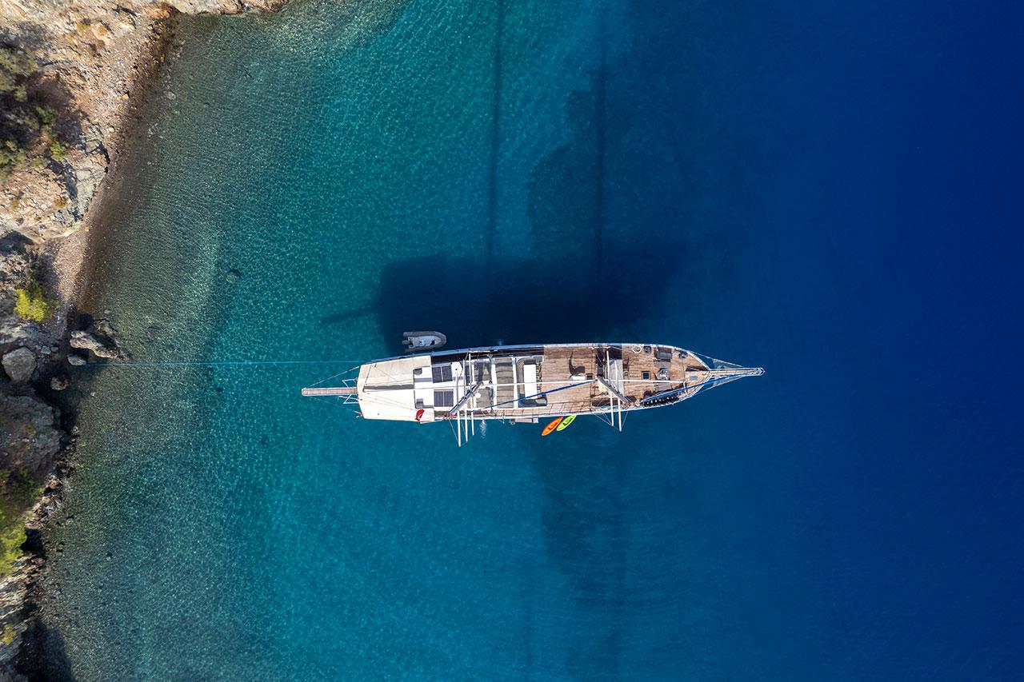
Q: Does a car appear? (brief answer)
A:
No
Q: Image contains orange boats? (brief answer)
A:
Yes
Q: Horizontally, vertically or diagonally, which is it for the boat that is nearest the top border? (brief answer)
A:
horizontally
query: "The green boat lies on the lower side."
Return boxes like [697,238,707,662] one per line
[557,416,576,431]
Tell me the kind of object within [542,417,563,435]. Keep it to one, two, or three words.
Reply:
boat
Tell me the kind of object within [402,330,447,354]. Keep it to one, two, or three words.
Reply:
boat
